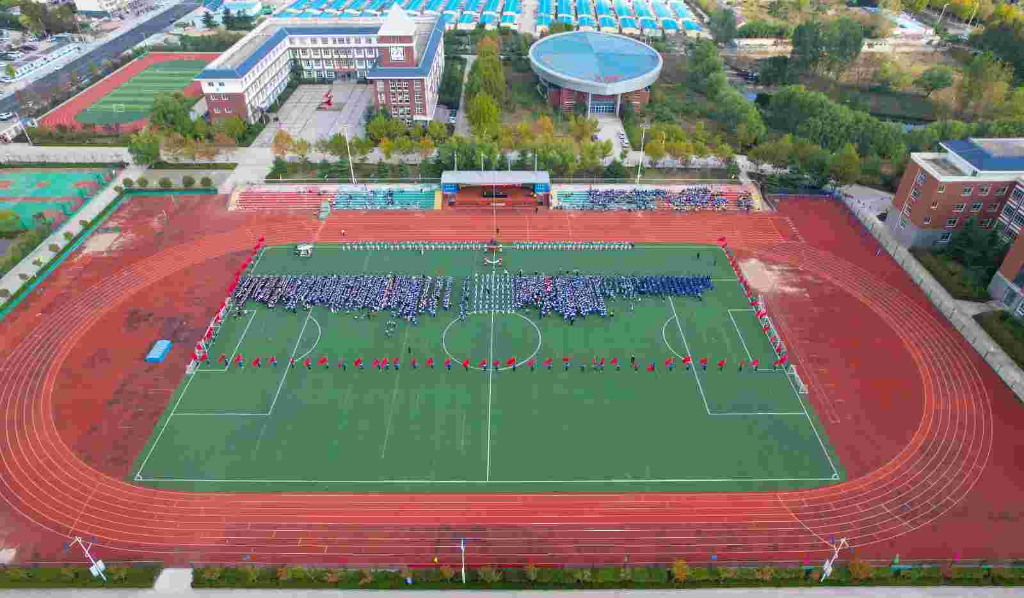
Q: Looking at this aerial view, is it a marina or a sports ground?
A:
sports ground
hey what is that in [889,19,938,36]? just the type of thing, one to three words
building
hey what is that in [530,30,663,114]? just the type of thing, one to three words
building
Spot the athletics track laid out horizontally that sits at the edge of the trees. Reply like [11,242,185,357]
[0,221,989,549]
